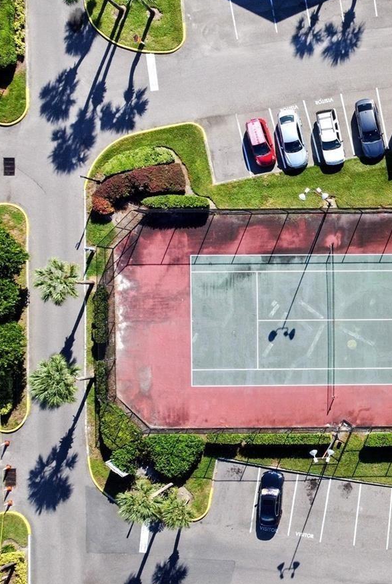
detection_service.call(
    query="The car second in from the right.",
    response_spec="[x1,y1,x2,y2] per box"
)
[316,108,347,166]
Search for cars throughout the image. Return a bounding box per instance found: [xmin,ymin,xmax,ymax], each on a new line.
[316,108,347,166]
[277,110,312,170]
[246,117,279,170]
[255,469,284,527]
[356,99,387,161]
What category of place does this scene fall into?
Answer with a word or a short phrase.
sports ground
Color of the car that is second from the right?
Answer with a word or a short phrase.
white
